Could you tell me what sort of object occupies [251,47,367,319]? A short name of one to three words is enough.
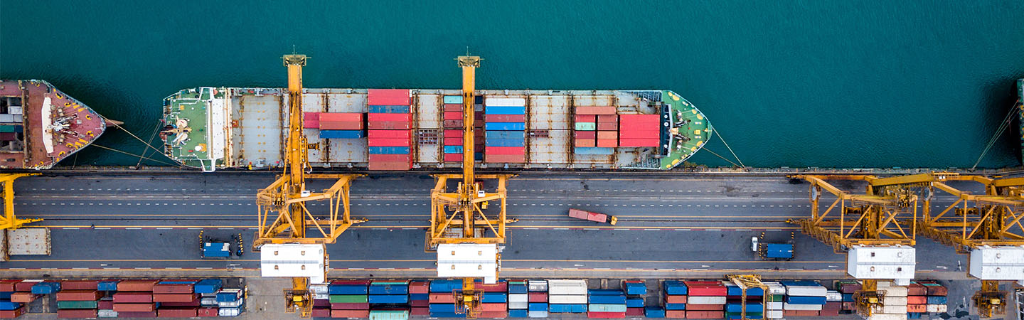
container crane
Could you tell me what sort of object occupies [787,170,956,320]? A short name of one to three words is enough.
container crane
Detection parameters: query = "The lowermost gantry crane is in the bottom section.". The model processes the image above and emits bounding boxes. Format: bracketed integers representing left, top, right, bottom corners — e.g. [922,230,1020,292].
[724,275,770,320]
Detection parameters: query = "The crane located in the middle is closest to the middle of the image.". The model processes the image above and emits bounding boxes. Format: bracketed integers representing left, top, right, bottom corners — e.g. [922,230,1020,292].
[422,48,518,319]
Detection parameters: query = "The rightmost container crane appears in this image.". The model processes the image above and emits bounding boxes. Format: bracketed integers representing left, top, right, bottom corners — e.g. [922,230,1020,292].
[893,172,1024,320]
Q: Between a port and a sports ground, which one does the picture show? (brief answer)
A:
port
